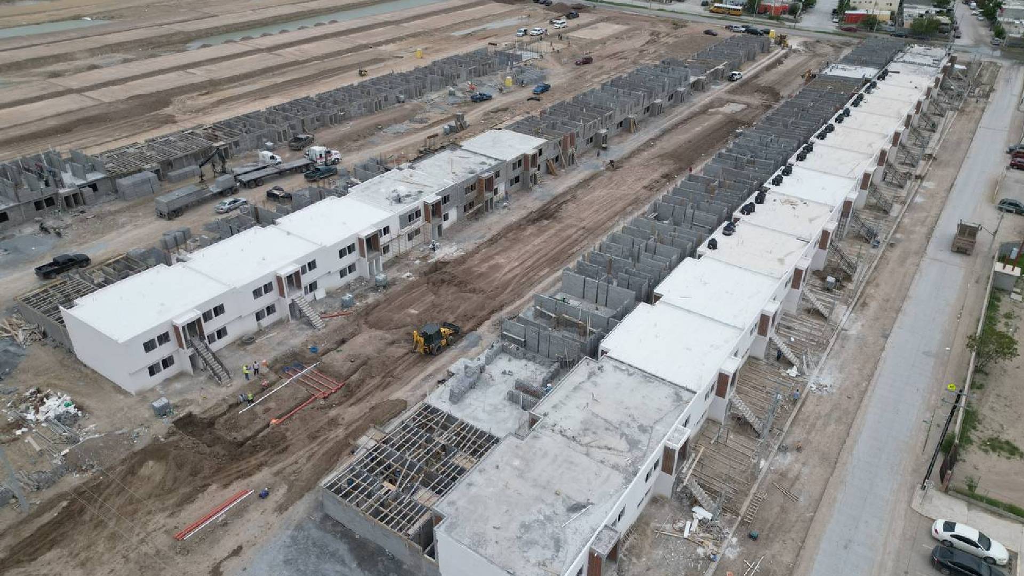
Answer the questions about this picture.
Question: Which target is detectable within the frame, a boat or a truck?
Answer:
truck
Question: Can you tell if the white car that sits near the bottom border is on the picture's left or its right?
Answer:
right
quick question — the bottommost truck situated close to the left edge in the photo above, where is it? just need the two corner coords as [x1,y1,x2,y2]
[32,254,89,278]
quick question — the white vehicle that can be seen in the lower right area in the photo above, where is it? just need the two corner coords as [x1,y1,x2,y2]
[935,517,1015,567]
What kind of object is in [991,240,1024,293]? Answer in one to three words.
shed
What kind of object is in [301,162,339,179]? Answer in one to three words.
vehicle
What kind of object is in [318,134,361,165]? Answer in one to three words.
truck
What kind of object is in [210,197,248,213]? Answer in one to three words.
car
